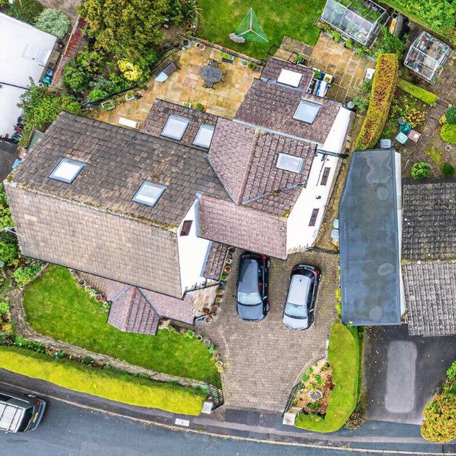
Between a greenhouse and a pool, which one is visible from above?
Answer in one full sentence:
I can see a greenhouse in this picture.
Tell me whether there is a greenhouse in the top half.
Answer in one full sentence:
Yes, a greenhouse can be seen in the top half.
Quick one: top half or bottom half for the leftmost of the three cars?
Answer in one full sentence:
It is in the bottom half that the leftmost of the three cars appears.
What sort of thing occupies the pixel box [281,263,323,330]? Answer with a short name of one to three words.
car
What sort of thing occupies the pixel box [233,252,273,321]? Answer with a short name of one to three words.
car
